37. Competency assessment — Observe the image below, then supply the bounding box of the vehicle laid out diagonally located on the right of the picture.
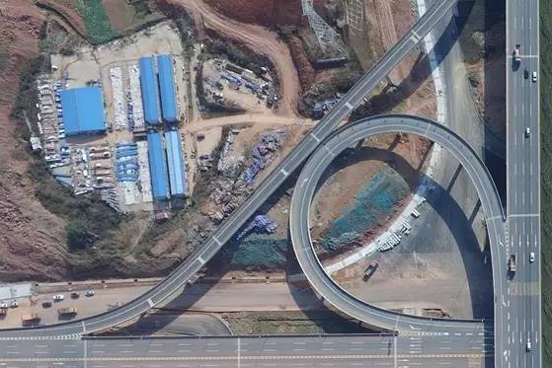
[362,259,377,280]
